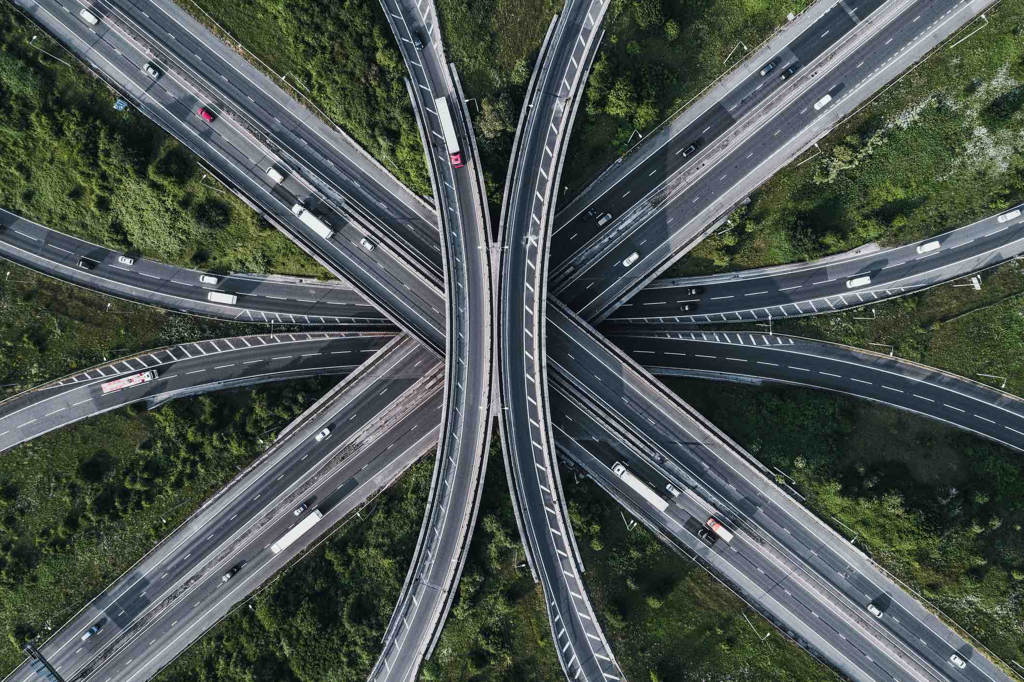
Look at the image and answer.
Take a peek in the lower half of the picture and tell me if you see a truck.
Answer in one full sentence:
Yes, I can see a truck in the lower half of the picture.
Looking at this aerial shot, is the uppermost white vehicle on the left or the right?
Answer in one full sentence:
The uppermost white vehicle is on the left side of the image.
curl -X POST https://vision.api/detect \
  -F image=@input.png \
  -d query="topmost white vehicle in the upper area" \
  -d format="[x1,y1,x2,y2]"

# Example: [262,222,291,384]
[81,9,104,30]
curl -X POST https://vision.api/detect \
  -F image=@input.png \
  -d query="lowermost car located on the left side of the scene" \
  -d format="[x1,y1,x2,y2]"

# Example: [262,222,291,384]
[82,622,101,640]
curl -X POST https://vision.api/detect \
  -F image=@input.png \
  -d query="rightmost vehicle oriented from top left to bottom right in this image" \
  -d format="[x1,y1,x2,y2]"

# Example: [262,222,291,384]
[947,652,966,669]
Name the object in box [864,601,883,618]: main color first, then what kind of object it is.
white car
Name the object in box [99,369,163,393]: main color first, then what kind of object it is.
white truck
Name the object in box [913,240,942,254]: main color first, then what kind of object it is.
white vehicle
